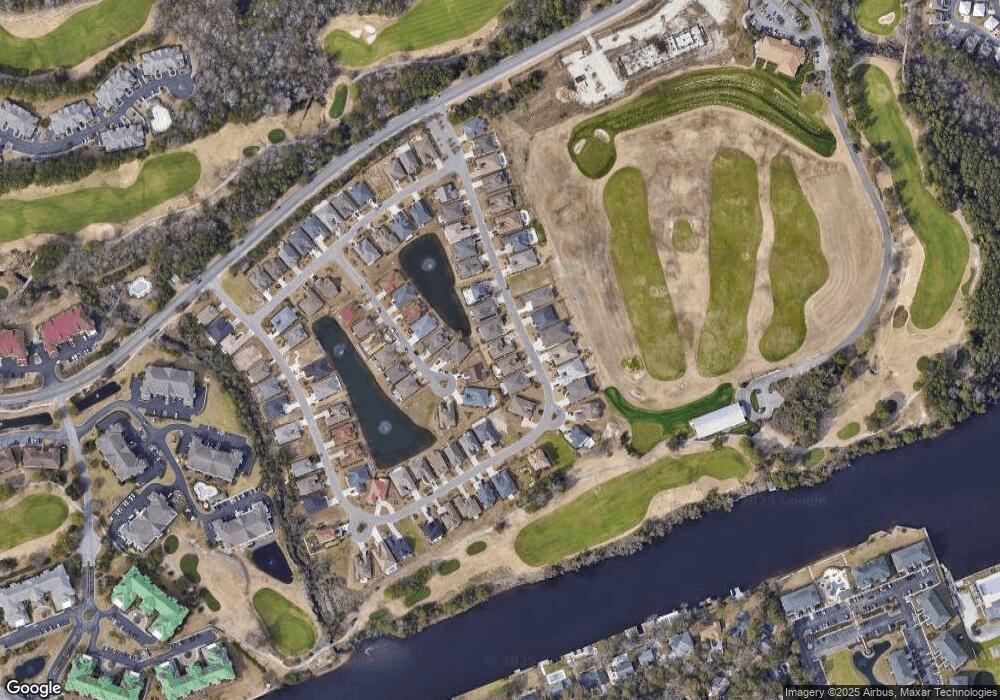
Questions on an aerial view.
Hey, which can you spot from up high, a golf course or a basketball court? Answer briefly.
golf course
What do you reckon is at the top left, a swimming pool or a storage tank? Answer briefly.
swimming pool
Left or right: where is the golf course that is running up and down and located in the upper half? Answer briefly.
right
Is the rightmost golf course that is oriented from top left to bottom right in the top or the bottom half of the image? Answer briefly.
bottom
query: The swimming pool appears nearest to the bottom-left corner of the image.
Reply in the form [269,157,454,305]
[194,481,218,500]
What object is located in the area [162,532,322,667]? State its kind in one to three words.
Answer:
golf course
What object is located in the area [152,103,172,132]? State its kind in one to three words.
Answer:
swimming pool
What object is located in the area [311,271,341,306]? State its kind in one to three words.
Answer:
house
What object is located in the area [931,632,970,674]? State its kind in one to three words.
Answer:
building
